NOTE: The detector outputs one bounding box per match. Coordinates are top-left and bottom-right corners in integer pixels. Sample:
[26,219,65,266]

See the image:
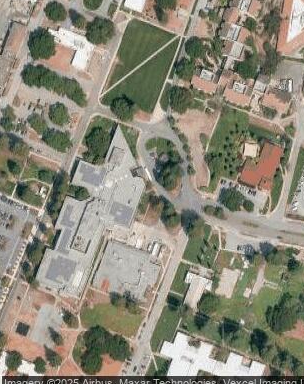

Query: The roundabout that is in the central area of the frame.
[147,135,186,194]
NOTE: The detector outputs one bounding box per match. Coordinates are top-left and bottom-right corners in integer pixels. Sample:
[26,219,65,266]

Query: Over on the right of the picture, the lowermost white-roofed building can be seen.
[161,332,266,384]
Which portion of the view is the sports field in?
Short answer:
top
